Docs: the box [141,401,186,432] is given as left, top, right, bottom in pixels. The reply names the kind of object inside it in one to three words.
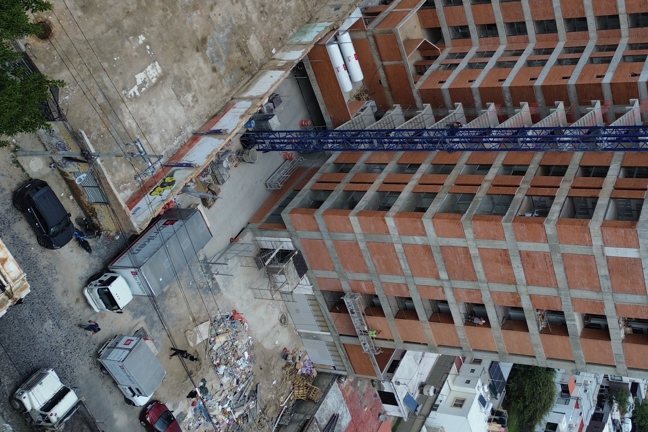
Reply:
car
